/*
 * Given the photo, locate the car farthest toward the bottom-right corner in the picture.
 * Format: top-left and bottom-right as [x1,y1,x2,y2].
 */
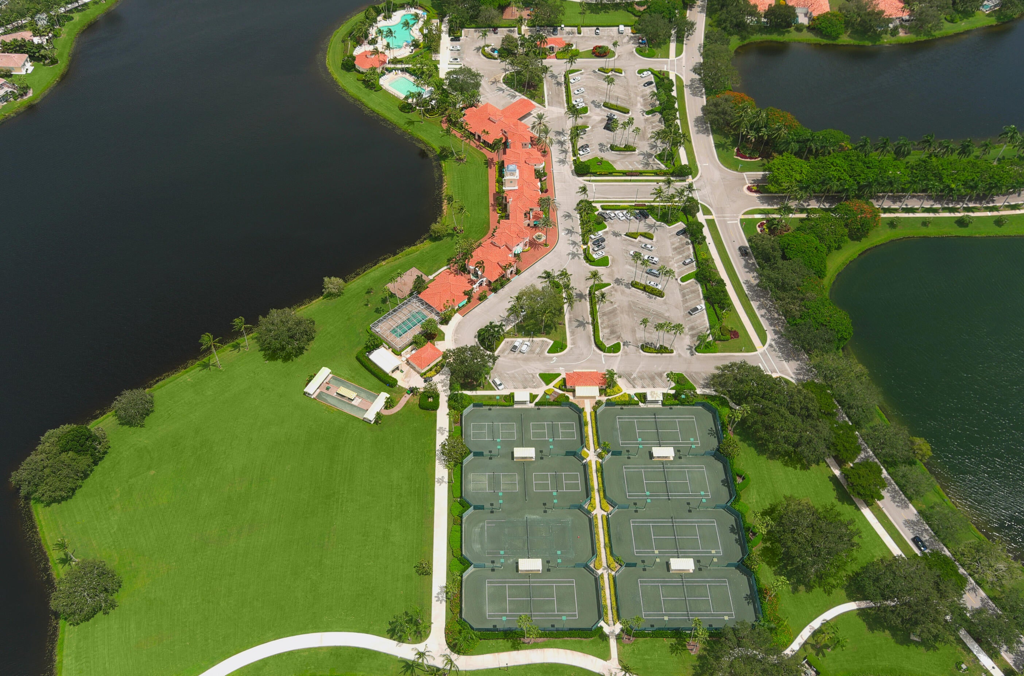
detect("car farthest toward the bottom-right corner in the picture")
[912,535,927,553]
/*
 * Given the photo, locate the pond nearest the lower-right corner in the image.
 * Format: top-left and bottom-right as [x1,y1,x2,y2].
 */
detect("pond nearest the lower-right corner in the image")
[832,238,1024,565]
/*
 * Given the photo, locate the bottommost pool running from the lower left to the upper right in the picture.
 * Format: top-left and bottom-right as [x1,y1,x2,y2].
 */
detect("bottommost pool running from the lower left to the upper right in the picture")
[391,310,428,338]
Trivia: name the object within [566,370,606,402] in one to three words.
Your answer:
building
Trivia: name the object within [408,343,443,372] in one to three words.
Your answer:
building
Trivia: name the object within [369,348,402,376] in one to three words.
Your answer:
shed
